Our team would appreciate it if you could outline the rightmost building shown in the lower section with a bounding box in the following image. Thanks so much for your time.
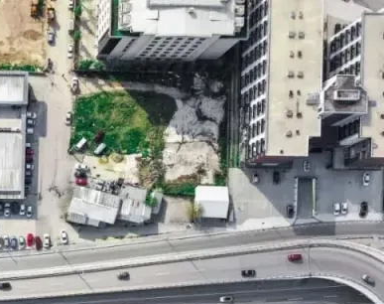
[191,186,230,217]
